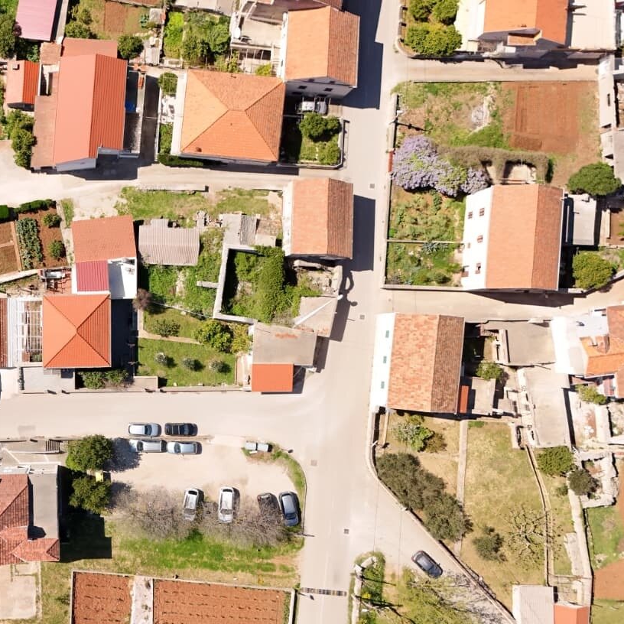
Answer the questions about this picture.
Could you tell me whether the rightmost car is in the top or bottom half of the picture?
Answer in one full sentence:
The bottom half of the photo is where the rightmost car is.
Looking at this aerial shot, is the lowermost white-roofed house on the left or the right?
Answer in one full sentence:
The lowermost white-roofed house is on the right side of the image.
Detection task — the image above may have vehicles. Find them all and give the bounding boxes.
[410,549,443,580]
[277,490,299,526]
[258,489,279,524]
[163,422,196,439]
[128,422,160,439]
[182,488,201,521]
[166,440,200,455]
[299,98,330,115]
[218,487,234,524]
[129,439,165,454]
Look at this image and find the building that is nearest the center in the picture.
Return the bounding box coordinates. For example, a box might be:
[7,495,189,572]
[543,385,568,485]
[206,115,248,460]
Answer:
[289,296,337,337]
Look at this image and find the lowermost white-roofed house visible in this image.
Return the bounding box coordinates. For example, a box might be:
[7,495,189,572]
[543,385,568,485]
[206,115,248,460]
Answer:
[504,579,555,624]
